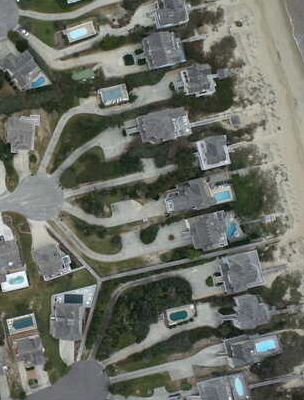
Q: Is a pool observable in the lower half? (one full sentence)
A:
Yes, a pool appears in the lower half.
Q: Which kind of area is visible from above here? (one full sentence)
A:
The picture captures a residential area.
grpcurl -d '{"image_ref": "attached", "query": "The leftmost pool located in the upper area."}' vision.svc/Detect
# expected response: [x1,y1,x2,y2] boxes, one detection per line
[26,71,52,91]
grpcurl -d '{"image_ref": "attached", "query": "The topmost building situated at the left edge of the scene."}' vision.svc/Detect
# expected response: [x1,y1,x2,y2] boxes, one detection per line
[0,50,42,91]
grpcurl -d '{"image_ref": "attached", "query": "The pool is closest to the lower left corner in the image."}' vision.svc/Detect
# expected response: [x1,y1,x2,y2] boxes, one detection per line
[6,312,37,335]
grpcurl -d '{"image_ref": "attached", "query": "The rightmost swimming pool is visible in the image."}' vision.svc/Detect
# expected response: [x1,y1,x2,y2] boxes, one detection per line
[254,336,277,353]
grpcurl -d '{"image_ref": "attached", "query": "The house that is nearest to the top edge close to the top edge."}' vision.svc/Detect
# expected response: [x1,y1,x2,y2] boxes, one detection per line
[146,0,190,29]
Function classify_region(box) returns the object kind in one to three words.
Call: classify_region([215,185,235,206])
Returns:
swimming pool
